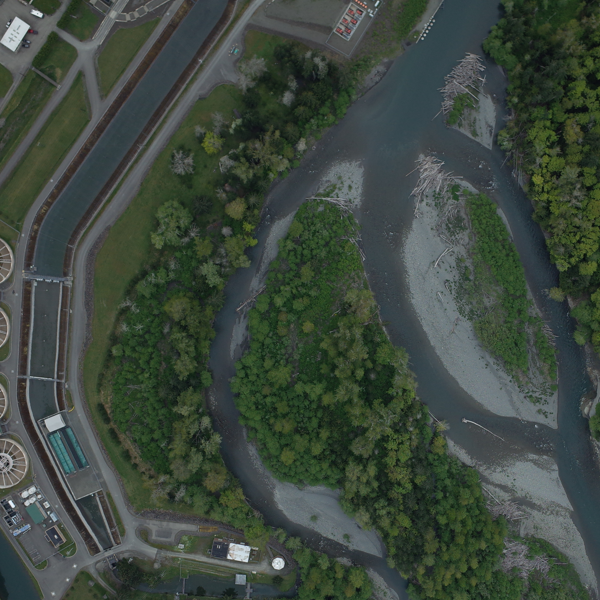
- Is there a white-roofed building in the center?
No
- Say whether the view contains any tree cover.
Yes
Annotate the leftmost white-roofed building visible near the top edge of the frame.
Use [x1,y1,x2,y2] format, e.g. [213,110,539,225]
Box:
[0,16,33,54]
